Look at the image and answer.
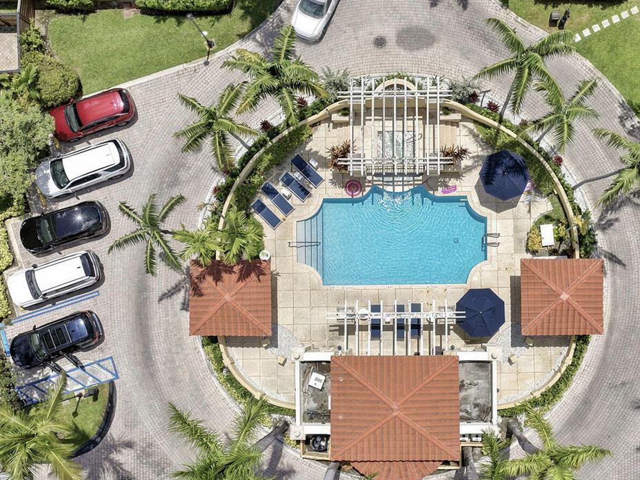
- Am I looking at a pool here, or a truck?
pool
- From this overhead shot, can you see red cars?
Yes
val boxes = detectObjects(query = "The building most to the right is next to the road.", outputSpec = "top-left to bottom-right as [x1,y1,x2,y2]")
[516,257,607,337]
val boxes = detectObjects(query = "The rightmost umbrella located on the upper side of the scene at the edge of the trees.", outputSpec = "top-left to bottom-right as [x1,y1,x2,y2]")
[477,151,530,204]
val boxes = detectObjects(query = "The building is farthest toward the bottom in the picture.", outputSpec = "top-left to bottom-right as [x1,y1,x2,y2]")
[293,349,498,480]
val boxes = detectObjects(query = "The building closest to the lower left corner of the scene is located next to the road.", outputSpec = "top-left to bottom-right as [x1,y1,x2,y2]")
[187,257,277,338]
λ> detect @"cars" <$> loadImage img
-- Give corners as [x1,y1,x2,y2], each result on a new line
[11,311,105,380]
[288,0,344,50]
[47,90,137,145]
[38,141,131,197]
[19,201,110,255]
[6,251,105,307]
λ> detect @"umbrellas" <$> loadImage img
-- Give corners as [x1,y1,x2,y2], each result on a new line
[455,288,503,337]
[477,151,530,204]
